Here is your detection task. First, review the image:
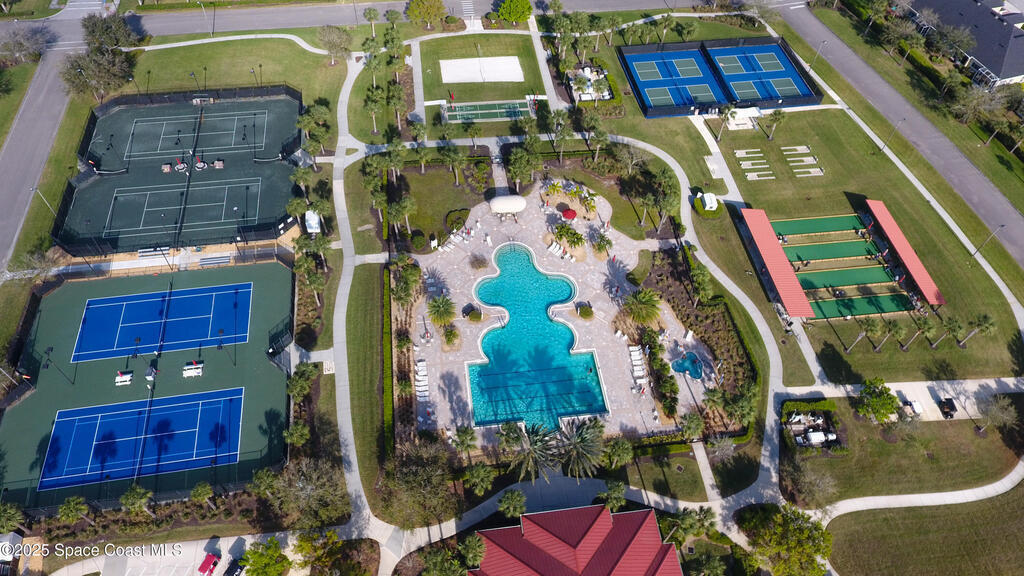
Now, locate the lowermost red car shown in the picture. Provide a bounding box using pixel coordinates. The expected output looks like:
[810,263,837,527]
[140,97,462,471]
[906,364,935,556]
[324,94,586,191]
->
[191,552,224,576]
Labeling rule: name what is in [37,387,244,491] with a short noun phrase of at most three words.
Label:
tennis court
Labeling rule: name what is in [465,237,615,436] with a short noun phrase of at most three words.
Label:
swimming pool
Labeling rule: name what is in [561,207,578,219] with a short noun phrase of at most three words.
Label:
umbrella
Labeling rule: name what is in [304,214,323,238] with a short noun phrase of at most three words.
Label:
shed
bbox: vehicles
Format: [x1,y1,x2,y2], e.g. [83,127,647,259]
[191,552,224,576]
[908,400,927,421]
[218,551,251,576]
[894,404,918,424]
[934,397,959,418]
